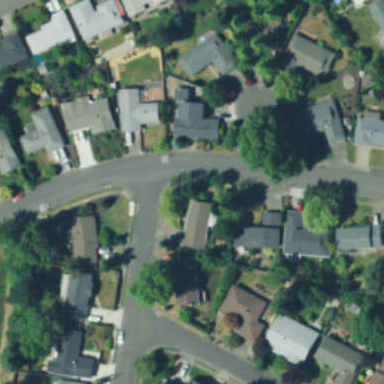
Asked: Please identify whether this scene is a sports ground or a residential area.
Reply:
residential area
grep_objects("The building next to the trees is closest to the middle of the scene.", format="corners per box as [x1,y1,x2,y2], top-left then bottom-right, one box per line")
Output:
[183,199,209,250]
